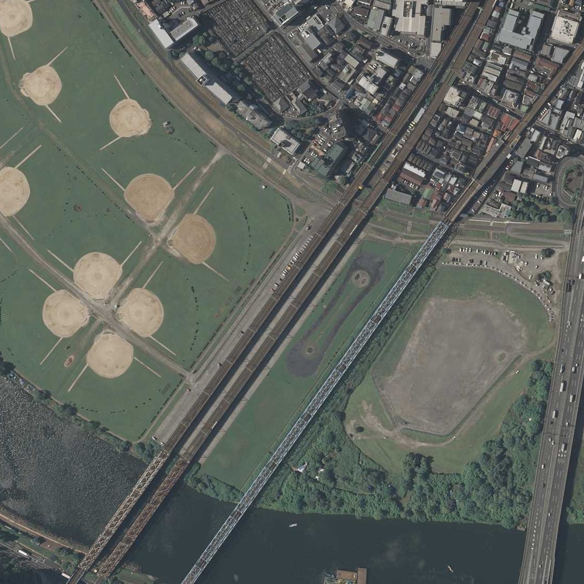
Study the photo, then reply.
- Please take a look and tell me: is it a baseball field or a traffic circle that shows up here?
baseball field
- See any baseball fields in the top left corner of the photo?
Yes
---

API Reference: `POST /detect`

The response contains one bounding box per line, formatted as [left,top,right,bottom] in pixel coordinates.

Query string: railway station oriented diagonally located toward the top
[474,135,516,190]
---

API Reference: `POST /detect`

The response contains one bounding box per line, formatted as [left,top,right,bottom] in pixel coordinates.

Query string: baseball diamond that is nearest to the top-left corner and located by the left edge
[0,0,34,58]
